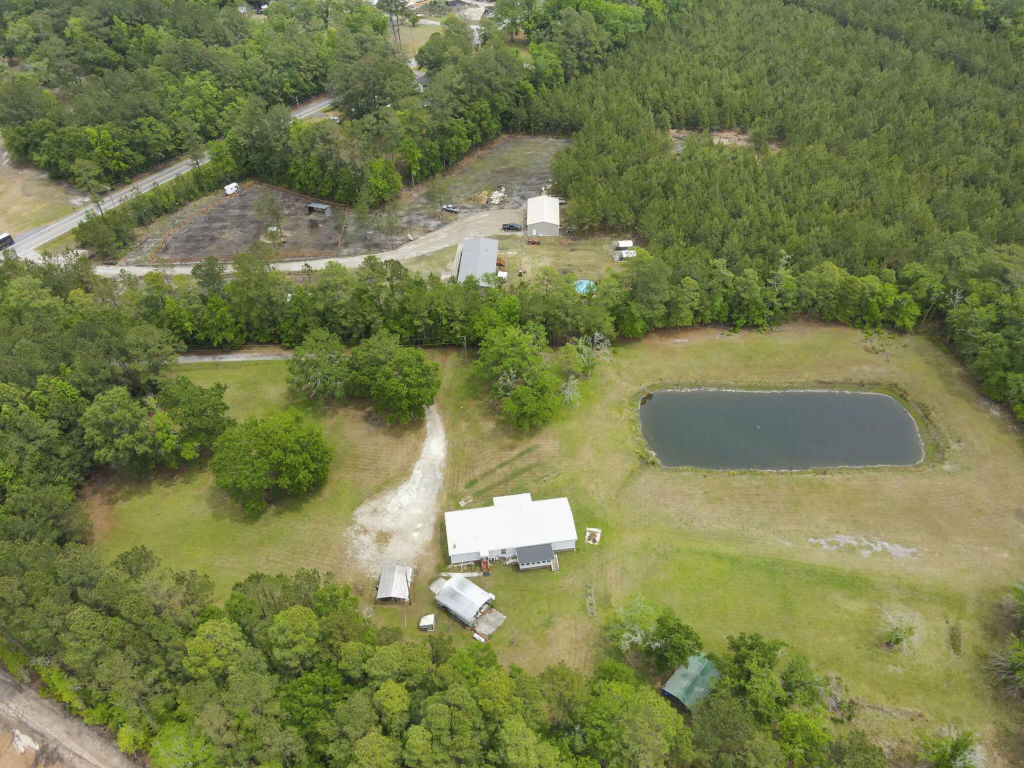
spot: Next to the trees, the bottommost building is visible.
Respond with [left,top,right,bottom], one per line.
[661,653,721,719]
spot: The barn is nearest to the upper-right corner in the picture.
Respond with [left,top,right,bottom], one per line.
[527,196,560,236]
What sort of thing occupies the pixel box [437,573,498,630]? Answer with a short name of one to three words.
building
